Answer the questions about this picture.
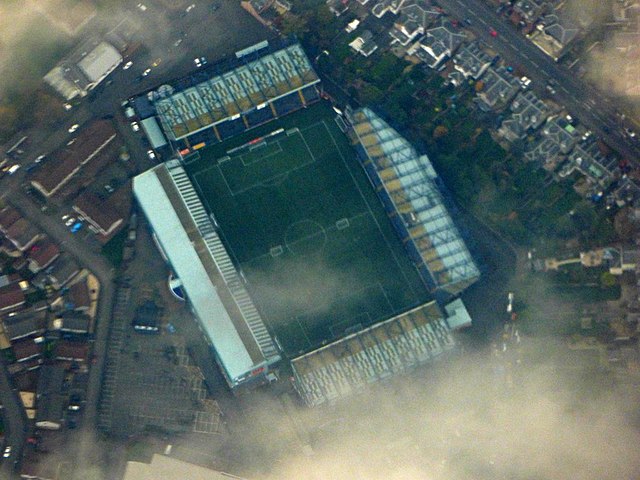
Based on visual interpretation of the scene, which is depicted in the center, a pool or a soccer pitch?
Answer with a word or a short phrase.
soccer pitch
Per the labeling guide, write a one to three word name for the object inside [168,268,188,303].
building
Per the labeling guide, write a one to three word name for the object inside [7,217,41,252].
house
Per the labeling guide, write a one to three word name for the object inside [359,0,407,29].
house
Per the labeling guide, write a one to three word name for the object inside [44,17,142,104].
building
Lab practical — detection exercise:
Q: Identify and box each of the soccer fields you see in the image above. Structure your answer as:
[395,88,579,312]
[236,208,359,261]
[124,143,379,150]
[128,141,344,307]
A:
[182,103,430,372]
